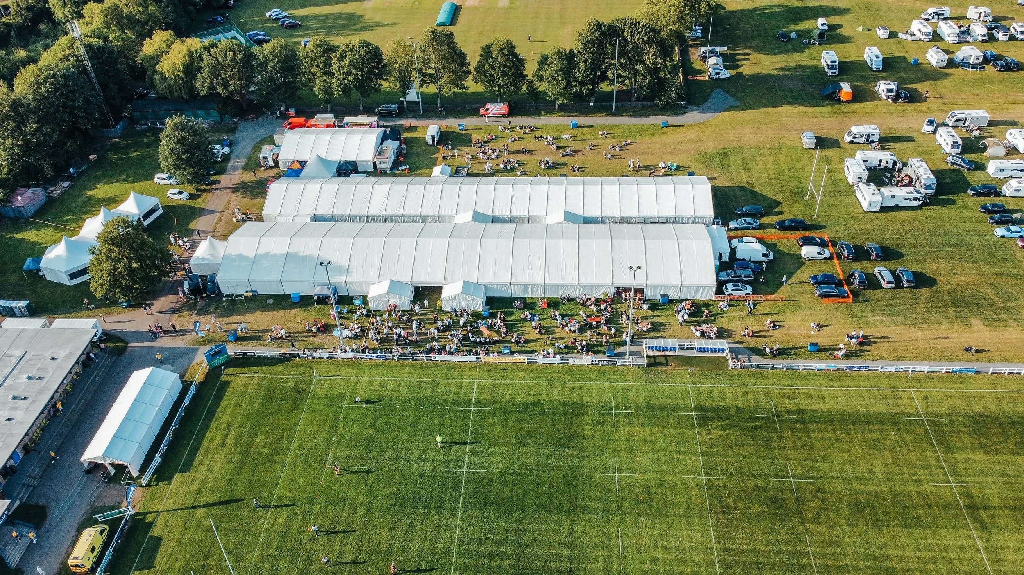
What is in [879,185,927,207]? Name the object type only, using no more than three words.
camper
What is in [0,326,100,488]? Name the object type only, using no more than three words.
building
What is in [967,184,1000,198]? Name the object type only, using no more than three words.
car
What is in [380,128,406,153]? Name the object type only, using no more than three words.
gazebo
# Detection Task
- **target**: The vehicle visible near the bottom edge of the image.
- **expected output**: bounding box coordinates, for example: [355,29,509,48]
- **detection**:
[64,527,110,575]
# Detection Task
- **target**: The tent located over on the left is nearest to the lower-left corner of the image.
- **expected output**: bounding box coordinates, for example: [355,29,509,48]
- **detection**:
[80,365,189,477]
